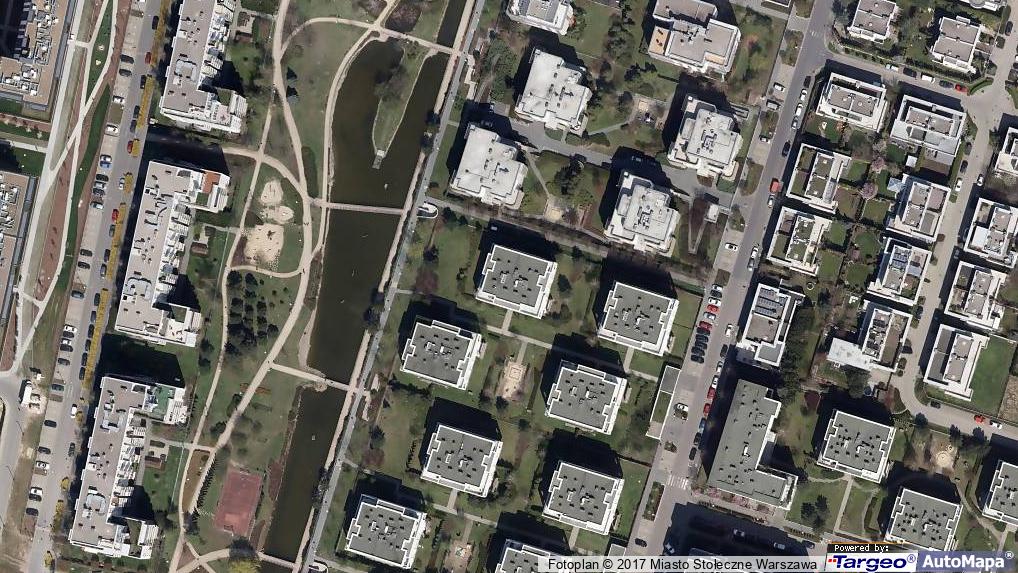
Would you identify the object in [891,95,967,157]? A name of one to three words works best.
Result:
house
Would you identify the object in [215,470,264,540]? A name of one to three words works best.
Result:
sports court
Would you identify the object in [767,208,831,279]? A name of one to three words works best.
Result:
house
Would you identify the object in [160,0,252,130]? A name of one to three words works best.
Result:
building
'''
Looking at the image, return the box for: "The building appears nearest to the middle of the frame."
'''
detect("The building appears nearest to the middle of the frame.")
[477,247,559,319]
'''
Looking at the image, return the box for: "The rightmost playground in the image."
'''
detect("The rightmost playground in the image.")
[926,441,955,472]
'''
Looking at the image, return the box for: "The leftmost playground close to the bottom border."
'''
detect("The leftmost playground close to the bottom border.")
[444,539,471,573]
